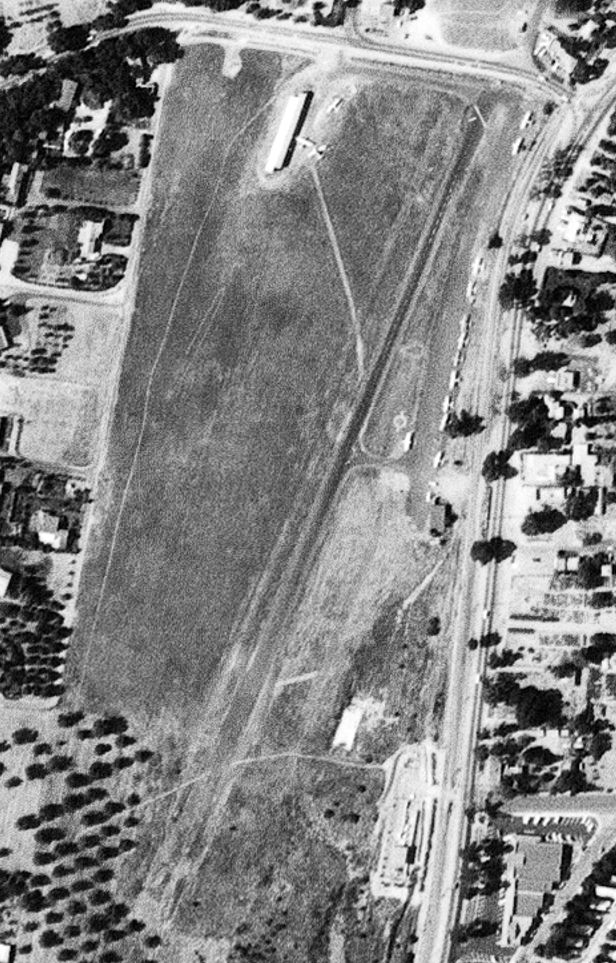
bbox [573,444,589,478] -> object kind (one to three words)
building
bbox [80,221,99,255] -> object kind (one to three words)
house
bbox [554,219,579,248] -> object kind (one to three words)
house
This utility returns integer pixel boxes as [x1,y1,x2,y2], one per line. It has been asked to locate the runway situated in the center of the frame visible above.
[202,102,482,831]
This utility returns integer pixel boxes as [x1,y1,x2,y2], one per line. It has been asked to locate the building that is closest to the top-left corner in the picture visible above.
[56,79,76,110]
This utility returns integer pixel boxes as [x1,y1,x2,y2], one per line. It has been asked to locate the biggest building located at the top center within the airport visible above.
[266,91,306,171]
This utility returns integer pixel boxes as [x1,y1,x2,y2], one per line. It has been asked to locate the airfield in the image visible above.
[66,43,542,921]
